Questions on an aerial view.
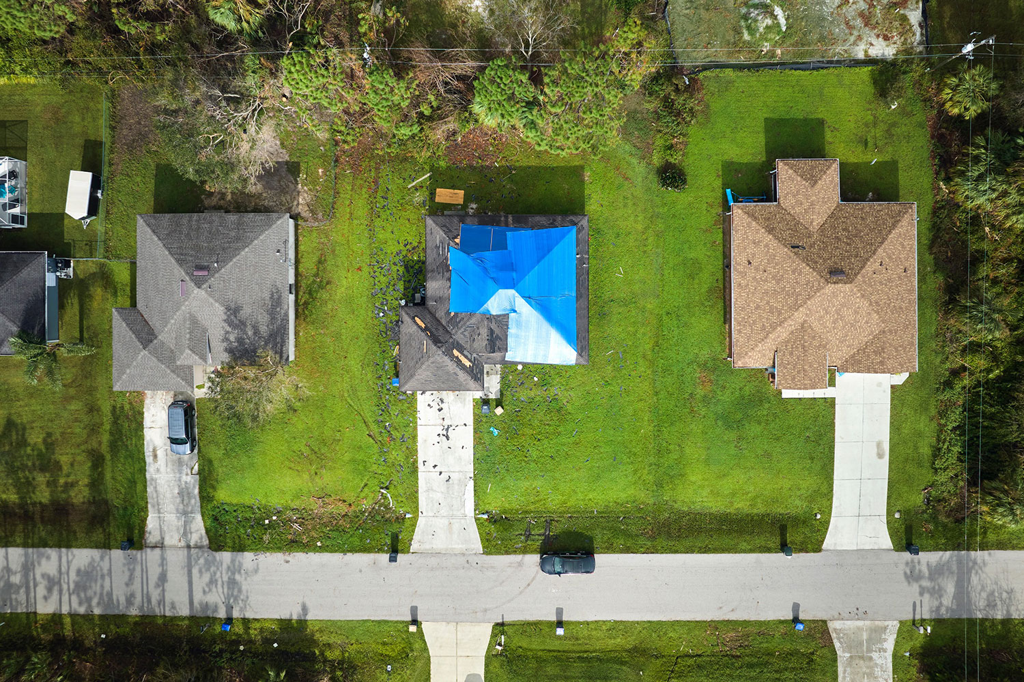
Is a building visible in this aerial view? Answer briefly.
Yes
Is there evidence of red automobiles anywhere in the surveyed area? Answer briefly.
No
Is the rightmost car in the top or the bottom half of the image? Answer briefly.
bottom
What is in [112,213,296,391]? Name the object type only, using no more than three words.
house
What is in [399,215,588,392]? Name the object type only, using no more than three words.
house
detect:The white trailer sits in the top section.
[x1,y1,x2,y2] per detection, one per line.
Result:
[59,171,103,235]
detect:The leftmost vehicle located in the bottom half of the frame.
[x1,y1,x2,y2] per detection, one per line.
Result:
[165,400,195,454]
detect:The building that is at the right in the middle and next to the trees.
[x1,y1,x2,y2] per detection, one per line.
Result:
[716,158,918,388]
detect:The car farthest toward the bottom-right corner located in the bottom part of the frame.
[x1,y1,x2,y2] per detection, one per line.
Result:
[540,551,594,579]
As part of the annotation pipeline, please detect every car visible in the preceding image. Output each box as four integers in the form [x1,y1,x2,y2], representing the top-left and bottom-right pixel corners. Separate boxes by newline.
[165,400,195,454]
[540,551,594,579]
